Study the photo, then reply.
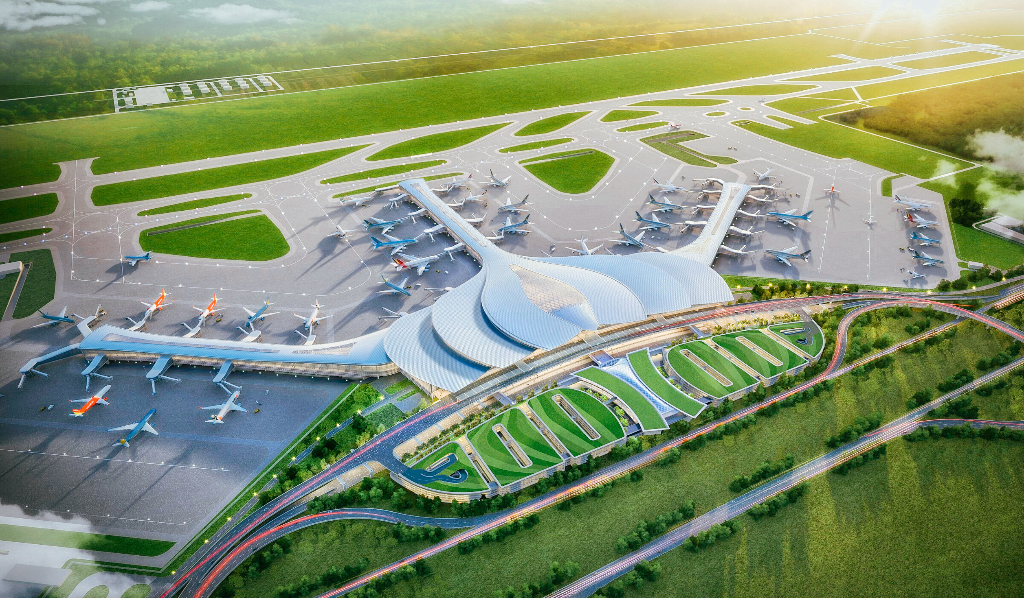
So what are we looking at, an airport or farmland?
airport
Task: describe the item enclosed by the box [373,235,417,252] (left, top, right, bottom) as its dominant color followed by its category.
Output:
blue airplane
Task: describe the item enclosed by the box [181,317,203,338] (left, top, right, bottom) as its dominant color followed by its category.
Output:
white jet bridge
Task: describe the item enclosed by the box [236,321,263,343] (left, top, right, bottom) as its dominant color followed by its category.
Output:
white jet bridge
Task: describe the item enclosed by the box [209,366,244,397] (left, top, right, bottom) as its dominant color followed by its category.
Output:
blue jet bridge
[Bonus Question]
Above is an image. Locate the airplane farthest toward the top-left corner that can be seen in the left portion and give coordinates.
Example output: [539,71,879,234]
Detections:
[125,253,152,265]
